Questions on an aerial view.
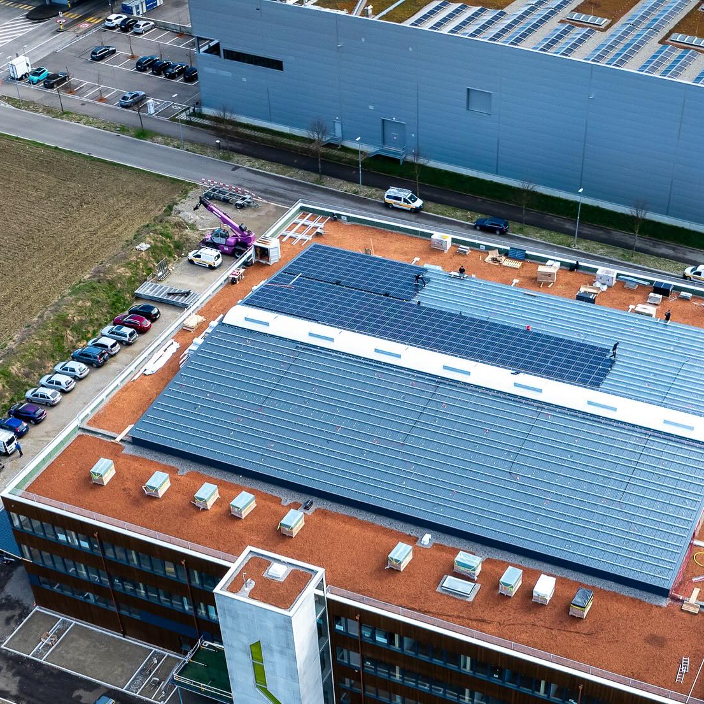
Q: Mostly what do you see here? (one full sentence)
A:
Most of the picture is covered by buildings.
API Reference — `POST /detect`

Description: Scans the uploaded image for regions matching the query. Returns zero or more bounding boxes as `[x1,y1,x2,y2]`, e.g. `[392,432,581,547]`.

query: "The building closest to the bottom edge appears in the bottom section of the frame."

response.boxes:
[0,198,704,704]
